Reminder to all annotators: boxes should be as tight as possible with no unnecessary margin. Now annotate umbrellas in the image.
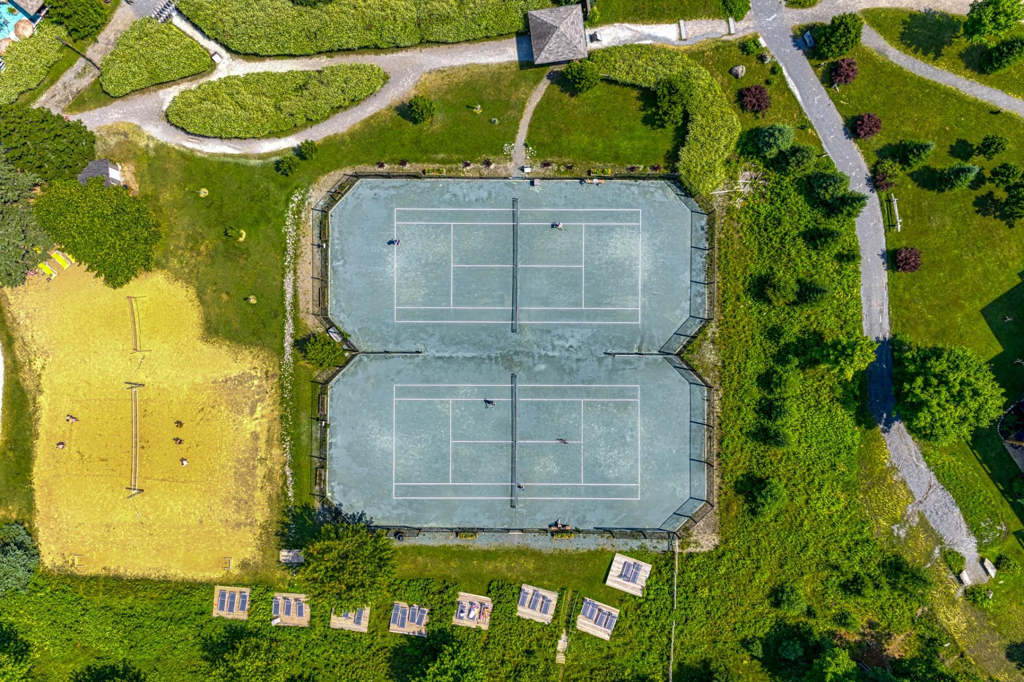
[0,36,17,59]
[14,18,39,41]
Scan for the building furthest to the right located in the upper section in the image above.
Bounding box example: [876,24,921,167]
[528,3,587,70]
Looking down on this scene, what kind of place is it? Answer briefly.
sports ground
